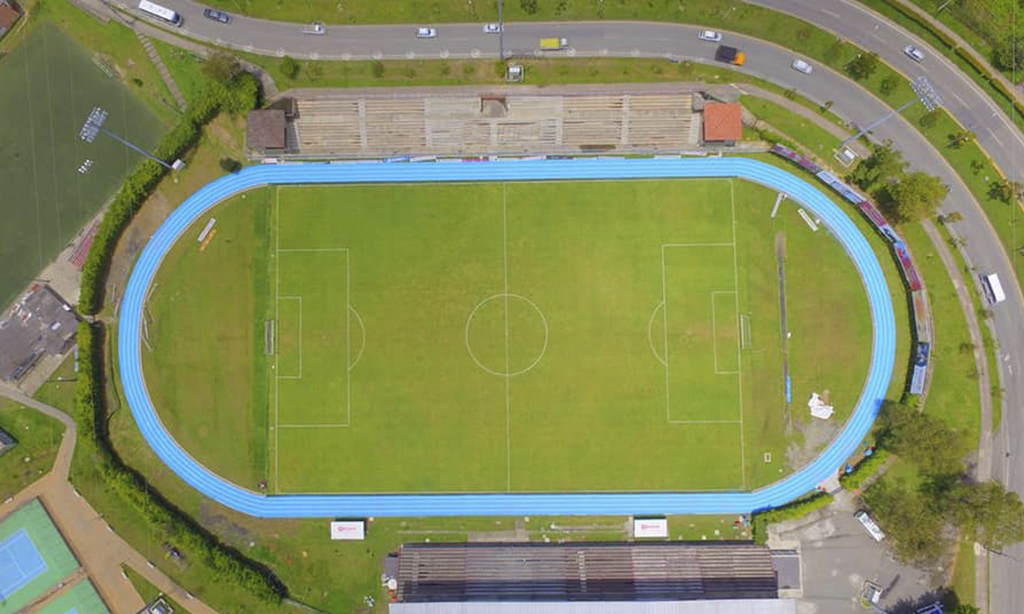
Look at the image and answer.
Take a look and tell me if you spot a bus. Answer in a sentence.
Yes, a bus is visible in the scene.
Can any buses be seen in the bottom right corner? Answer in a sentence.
Yes, a bus can be seen in the bottom right corner.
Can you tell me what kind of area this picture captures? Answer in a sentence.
It's a sports ground.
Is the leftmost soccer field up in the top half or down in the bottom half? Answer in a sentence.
The top half of the photo is where the leftmost soccer field is.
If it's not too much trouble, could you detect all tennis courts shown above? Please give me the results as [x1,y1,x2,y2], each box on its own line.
[0,498,79,614]
[34,578,108,614]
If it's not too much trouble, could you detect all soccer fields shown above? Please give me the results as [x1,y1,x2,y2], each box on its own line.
[268,180,748,495]
[0,20,167,310]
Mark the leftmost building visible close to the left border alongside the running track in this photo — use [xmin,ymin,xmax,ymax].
[0,287,86,384]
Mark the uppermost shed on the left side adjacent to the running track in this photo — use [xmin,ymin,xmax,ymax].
[247,109,290,153]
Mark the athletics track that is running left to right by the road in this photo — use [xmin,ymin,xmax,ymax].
[119,157,896,518]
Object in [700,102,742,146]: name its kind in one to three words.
shed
